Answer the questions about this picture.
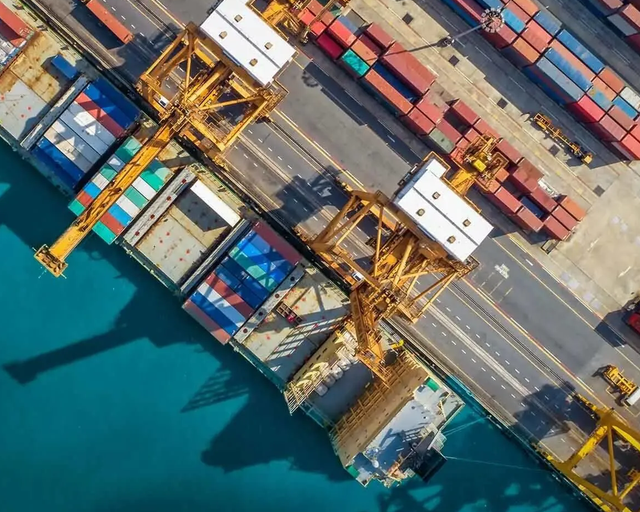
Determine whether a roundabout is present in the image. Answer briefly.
No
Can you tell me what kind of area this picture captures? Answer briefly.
port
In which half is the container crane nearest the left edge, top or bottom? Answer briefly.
top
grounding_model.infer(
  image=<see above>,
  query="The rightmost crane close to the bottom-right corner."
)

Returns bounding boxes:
[531,388,640,512]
